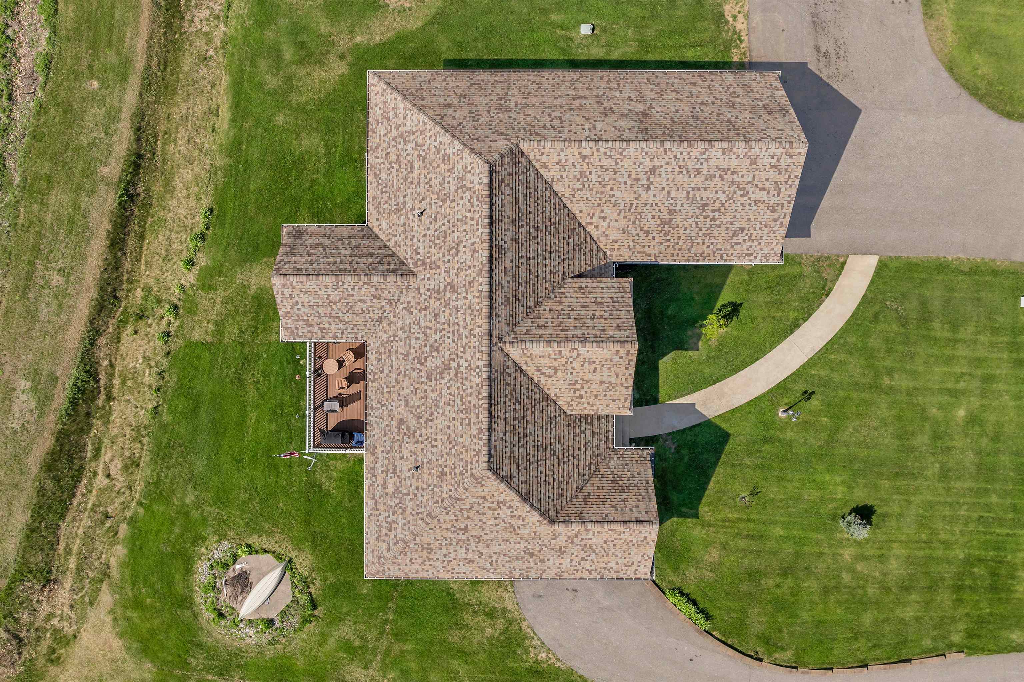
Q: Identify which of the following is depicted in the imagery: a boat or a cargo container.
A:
boat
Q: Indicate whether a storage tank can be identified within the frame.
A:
No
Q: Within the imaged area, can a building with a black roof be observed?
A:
No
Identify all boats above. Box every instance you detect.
[238,561,287,620]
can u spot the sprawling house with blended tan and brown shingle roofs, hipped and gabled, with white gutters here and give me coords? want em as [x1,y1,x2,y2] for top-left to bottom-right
[271,70,809,579]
